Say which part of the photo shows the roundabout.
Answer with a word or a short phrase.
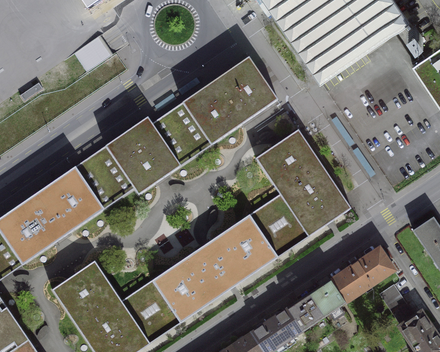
top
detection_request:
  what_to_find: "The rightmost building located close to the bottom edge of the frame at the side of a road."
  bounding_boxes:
[398,309,440,352]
